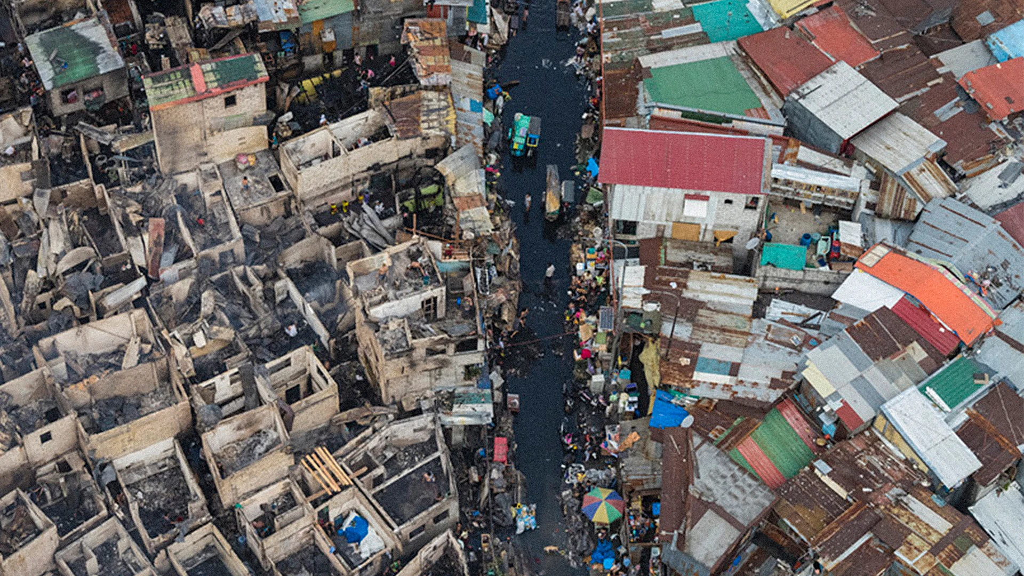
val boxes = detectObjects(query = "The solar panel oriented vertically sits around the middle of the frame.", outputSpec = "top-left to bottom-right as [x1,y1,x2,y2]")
[597,306,615,346]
